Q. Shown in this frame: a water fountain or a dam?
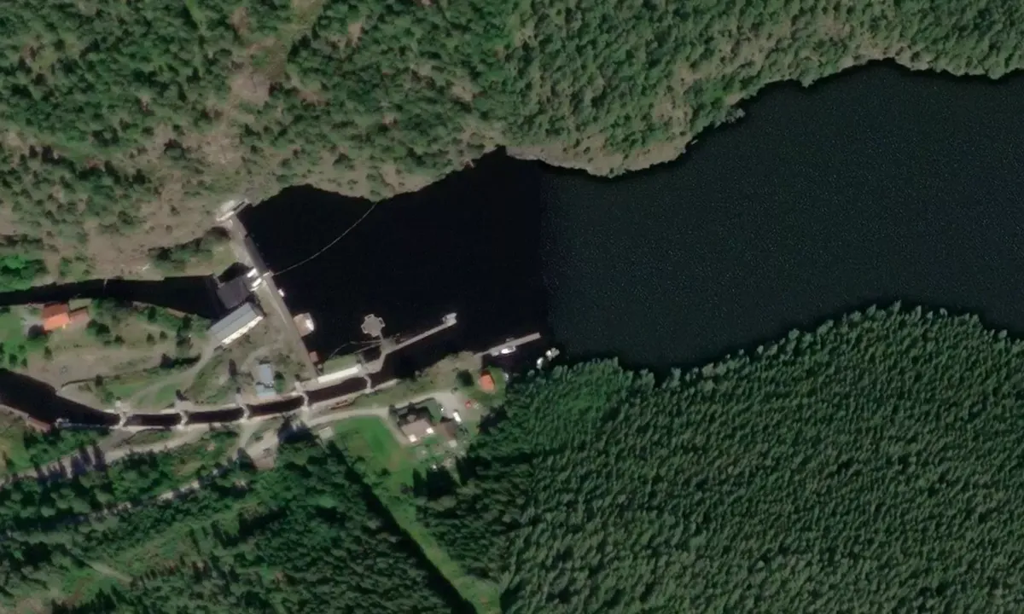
dam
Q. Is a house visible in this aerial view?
Yes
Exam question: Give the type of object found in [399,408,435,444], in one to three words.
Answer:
house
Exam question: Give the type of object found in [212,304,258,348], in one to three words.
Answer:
building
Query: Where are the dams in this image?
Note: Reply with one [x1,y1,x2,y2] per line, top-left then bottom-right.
[216,200,319,378]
